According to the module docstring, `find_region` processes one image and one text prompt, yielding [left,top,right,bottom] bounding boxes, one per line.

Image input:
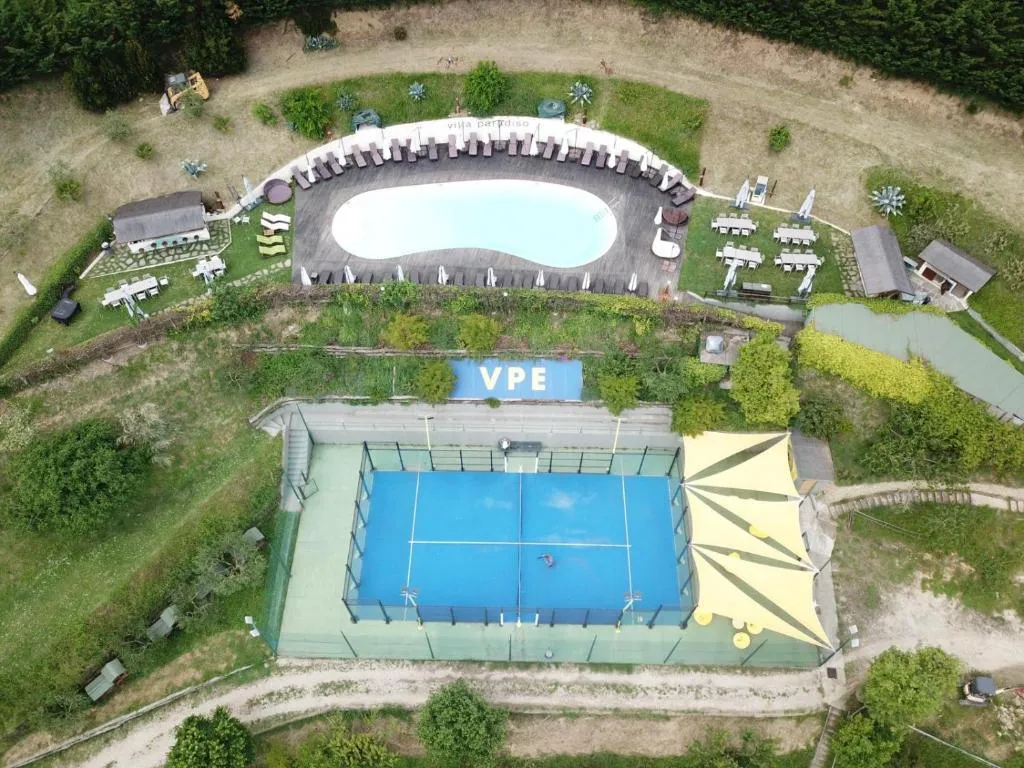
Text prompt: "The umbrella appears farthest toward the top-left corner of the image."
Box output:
[11,266,38,296]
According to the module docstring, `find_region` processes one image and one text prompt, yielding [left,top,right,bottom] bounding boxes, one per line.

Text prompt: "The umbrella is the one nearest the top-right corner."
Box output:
[788,189,821,226]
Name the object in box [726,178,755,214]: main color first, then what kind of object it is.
white umbrella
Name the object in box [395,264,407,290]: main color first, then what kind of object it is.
white umbrella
